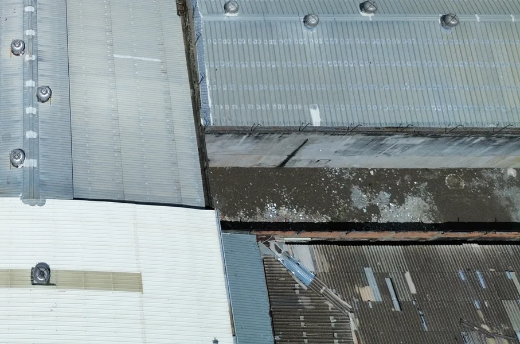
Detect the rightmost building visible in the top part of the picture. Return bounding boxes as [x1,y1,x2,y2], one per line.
[185,0,520,171]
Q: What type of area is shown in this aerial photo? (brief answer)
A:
industrial area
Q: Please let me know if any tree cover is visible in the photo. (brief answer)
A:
No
